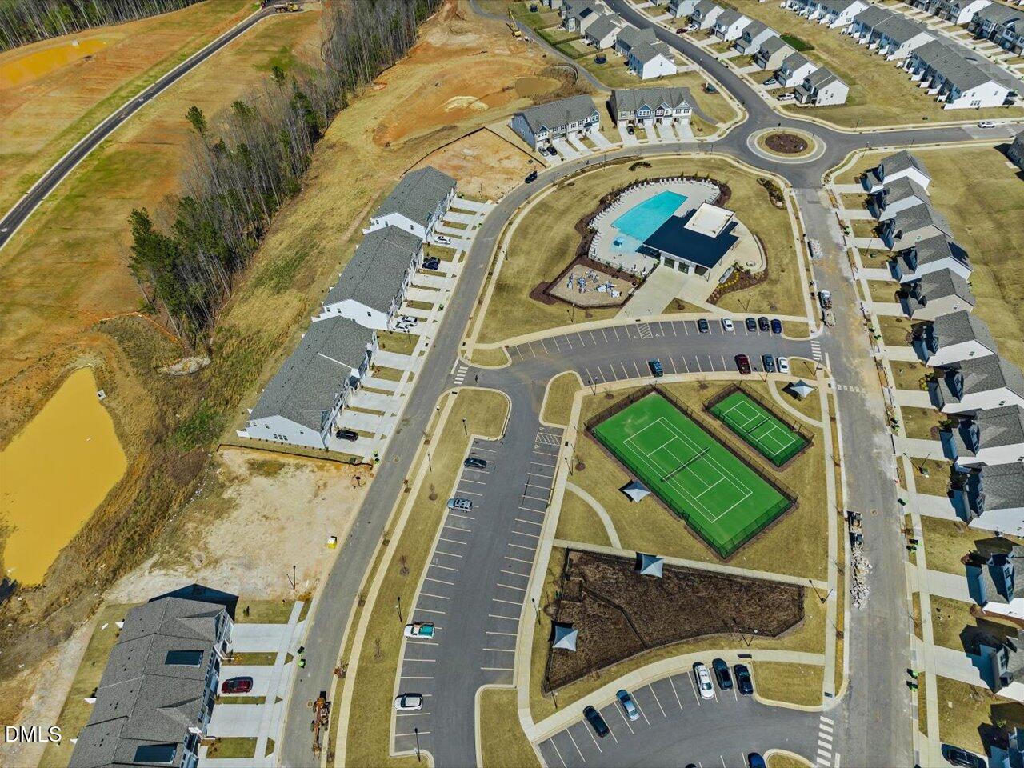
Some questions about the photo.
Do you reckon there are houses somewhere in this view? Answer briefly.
Yes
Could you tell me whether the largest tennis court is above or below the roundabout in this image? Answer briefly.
below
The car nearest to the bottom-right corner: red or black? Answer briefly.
black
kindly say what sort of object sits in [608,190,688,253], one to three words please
swimming pool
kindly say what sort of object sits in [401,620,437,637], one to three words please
vehicle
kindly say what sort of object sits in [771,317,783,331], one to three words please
vehicle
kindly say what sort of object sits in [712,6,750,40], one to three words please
house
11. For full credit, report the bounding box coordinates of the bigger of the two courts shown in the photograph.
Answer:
[595,393,790,549]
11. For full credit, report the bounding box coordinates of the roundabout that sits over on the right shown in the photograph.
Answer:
[747,127,828,165]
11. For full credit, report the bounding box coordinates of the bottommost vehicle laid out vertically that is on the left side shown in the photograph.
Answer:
[307,686,330,758]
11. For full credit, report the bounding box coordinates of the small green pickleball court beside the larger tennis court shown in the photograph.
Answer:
[715,392,805,458]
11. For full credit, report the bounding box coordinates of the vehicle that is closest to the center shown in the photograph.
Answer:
[463,454,488,467]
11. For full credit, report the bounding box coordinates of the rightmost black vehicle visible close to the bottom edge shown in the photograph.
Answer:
[948,741,985,768]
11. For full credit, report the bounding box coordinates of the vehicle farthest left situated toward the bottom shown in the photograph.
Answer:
[220,675,252,692]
